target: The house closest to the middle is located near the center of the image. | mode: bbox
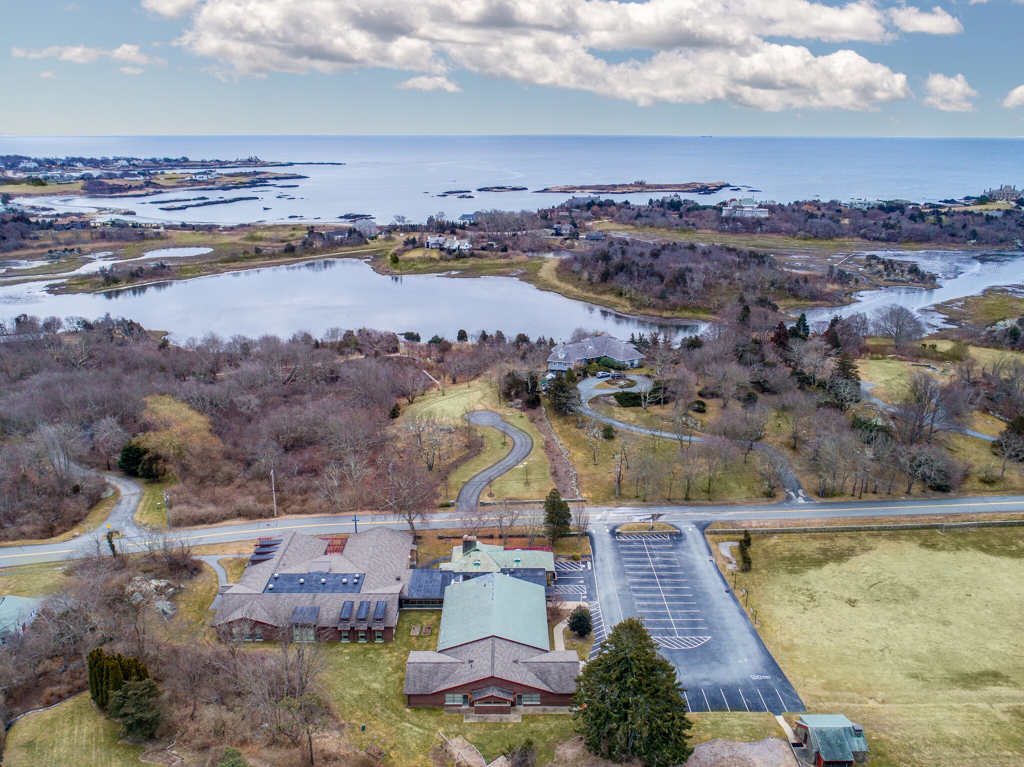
[547,333,645,375]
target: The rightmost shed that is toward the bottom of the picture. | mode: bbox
[794,715,871,767]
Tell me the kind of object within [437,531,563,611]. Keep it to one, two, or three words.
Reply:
building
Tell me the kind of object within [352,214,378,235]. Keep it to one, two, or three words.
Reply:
house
